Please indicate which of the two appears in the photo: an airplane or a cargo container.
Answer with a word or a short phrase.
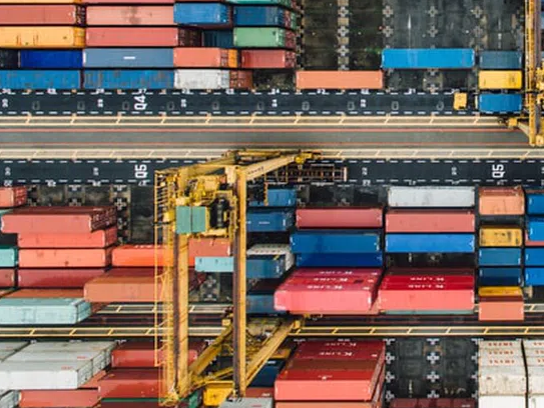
cargo container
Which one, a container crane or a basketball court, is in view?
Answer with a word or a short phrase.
container crane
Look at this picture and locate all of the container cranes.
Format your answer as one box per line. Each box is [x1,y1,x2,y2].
[500,0,544,147]
[155,152,328,401]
